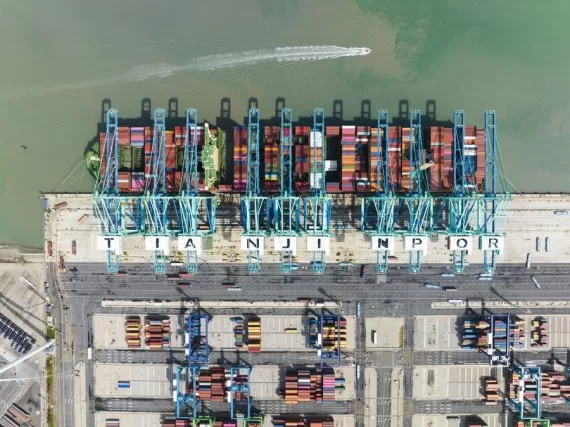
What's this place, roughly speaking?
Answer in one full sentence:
It's a port.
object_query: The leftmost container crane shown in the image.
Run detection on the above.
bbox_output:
[89,107,150,274]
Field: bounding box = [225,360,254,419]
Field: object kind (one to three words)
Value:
container crane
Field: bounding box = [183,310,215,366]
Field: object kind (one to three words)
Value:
container crane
